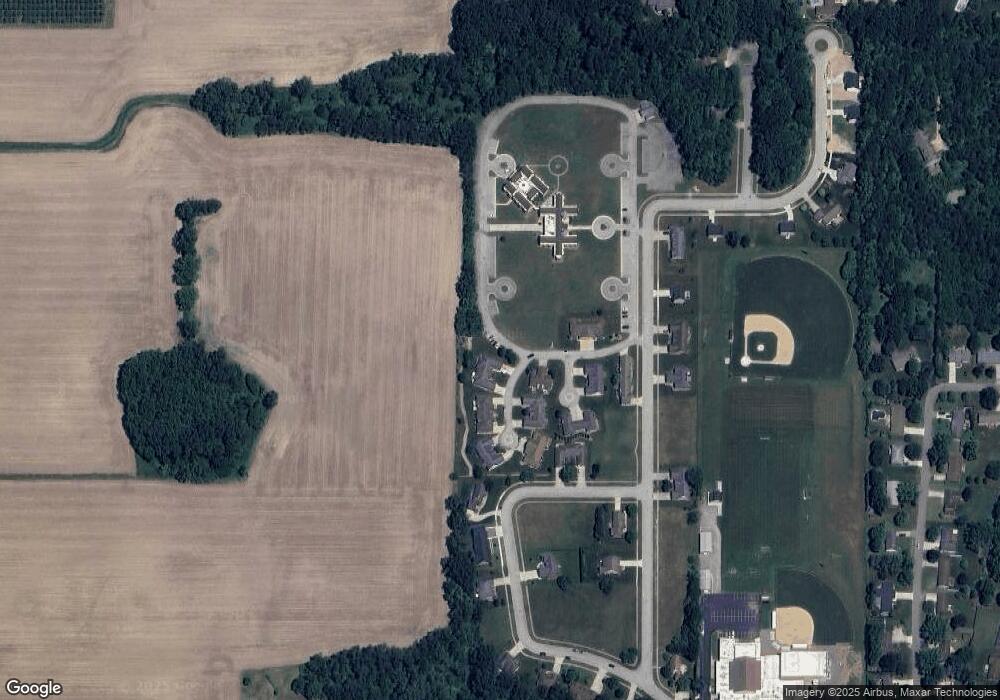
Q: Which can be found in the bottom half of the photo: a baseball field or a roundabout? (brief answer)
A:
baseball field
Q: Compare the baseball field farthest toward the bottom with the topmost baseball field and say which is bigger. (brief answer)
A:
the topmost baseball field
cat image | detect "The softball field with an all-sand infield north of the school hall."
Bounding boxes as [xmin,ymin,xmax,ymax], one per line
[775,569,852,646]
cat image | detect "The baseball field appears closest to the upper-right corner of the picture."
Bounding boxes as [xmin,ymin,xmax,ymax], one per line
[732,256,854,380]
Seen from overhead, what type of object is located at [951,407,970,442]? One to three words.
house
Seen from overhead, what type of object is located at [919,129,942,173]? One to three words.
house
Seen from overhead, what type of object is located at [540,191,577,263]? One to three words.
building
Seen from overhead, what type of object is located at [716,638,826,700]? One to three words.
building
